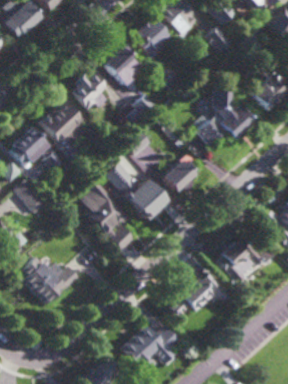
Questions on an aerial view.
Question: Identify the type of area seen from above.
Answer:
residential area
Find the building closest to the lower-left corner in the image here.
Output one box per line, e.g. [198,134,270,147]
[24,254,76,300]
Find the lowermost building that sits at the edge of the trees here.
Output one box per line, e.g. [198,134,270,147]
[120,326,178,366]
